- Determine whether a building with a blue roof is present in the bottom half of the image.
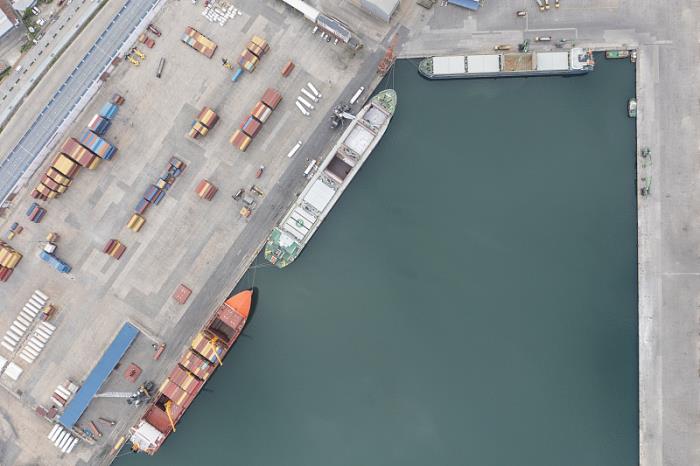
Yes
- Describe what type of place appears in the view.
port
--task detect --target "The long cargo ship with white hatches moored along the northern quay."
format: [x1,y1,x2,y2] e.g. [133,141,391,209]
[418,49,595,79]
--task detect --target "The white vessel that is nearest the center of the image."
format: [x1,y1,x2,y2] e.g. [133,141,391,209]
[264,89,398,270]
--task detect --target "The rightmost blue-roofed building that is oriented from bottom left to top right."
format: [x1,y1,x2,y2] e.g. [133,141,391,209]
[58,321,142,428]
